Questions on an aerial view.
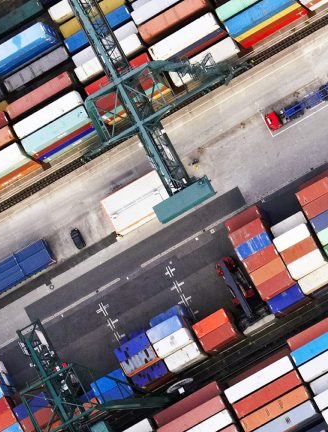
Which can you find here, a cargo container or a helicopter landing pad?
cargo container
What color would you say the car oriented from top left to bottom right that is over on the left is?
black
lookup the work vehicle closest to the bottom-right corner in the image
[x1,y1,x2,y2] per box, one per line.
[216,254,273,334]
